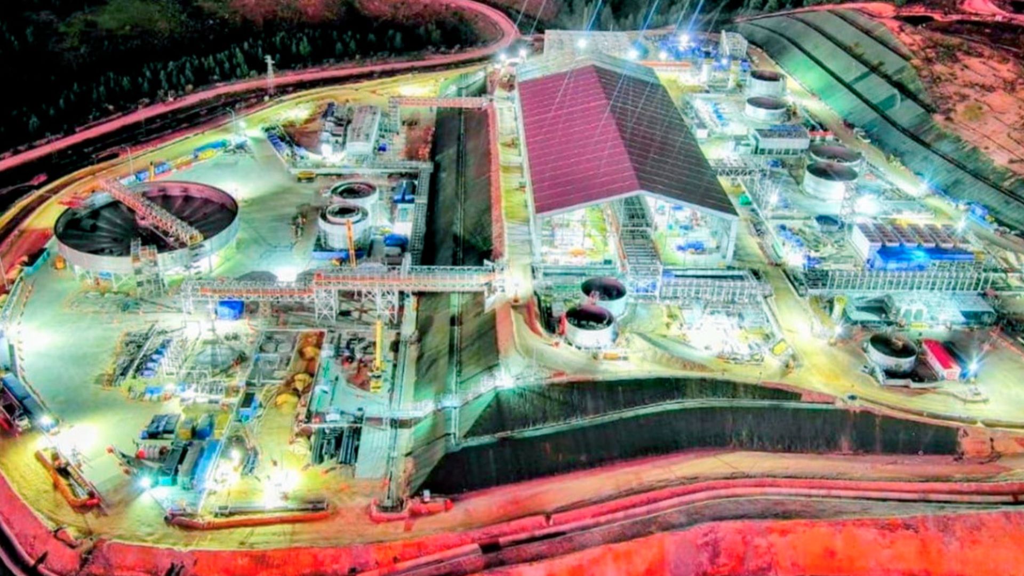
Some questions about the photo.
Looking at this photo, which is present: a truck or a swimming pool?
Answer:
truck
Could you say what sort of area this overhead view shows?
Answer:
industrial area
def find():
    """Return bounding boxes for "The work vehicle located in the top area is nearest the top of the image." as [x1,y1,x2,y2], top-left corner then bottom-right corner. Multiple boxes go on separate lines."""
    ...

[490,73,515,86]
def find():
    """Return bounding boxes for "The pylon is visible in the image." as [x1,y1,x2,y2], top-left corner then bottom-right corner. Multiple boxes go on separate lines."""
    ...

[255,51,274,101]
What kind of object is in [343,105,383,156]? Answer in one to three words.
shed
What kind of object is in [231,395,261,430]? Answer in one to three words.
truck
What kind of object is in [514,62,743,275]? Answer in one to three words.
building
